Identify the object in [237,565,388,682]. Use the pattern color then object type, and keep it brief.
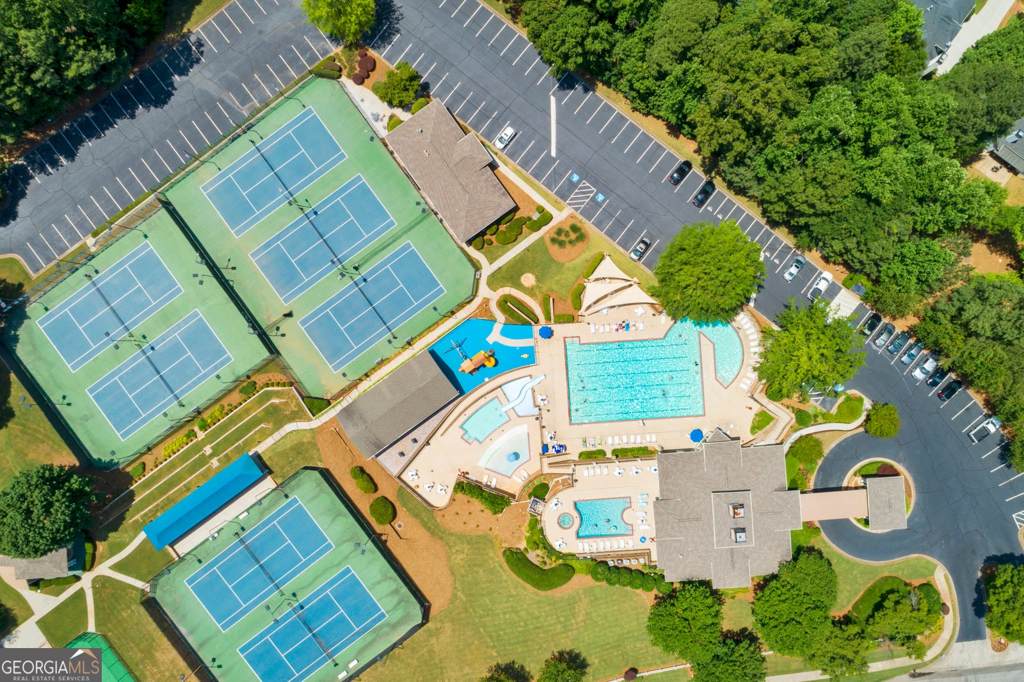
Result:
blue tennis court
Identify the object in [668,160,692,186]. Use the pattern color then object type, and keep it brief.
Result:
black car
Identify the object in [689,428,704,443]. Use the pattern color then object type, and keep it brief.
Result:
blue umbrella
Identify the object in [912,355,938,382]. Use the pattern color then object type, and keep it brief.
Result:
white car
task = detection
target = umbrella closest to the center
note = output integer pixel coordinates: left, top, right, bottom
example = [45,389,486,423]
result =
[538,325,552,339]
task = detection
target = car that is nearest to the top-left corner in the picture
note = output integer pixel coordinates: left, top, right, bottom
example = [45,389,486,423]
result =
[494,124,518,151]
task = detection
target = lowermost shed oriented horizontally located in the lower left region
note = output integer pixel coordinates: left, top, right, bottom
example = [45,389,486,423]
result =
[0,541,75,576]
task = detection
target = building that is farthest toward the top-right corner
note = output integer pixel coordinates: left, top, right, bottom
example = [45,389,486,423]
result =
[916,0,976,70]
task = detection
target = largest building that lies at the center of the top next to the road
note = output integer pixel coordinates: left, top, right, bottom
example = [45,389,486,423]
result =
[384,98,516,243]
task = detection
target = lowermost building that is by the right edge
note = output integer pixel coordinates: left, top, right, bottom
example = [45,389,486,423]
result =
[982,121,1024,186]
